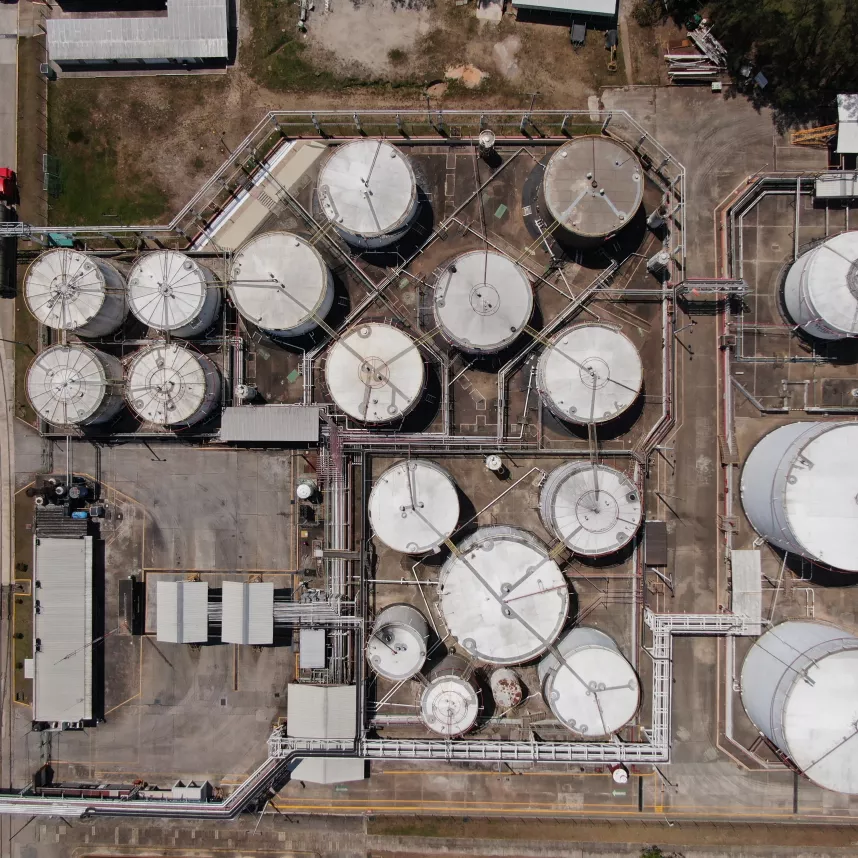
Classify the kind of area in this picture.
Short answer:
industrial area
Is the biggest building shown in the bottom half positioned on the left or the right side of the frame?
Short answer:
left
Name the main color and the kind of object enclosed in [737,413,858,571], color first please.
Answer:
white storage tank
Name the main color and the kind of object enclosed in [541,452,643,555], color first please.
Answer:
white storage tank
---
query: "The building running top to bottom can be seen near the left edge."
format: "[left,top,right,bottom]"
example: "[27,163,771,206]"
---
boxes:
[24,535,97,722]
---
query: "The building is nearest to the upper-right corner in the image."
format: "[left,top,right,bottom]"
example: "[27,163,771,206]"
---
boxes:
[829,93,858,158]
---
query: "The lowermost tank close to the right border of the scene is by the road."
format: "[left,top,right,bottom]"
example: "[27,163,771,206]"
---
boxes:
[737,613,858,798]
